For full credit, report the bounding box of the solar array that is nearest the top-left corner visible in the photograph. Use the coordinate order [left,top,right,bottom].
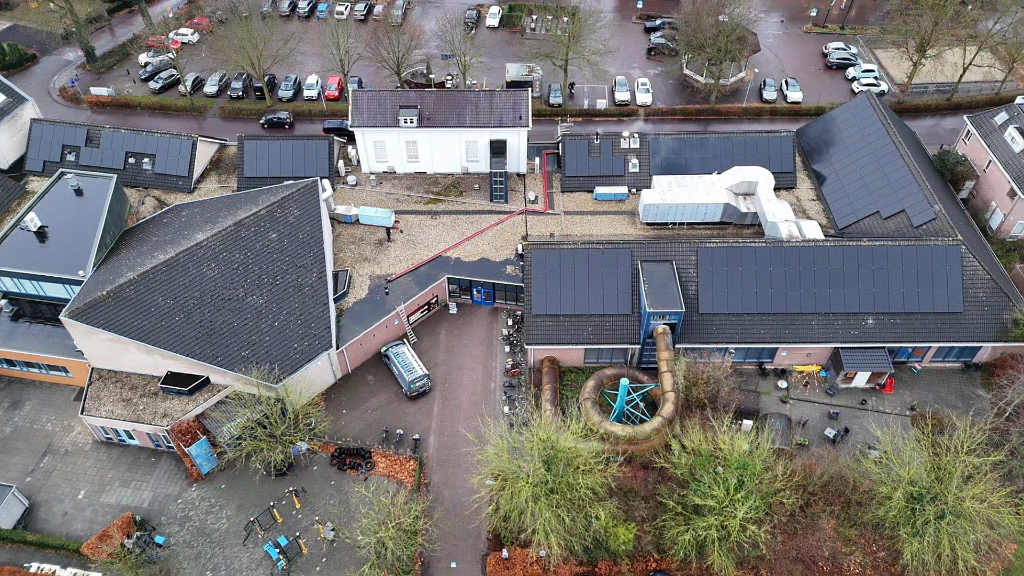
[15,123,192,175]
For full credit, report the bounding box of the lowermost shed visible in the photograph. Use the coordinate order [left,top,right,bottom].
[0,478,32,526]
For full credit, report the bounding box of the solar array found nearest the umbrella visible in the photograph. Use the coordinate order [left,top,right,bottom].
[698,246,969,313]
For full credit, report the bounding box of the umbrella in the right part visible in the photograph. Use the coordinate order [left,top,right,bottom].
[789,365,823,395]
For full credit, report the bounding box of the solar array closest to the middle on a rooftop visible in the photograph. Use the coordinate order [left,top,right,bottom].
[532,247,633,314]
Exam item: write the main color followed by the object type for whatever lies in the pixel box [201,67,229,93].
gray car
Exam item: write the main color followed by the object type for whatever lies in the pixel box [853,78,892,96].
white car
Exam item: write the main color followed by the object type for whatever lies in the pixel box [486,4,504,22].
white car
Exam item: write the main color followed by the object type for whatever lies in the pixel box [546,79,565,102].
gray car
